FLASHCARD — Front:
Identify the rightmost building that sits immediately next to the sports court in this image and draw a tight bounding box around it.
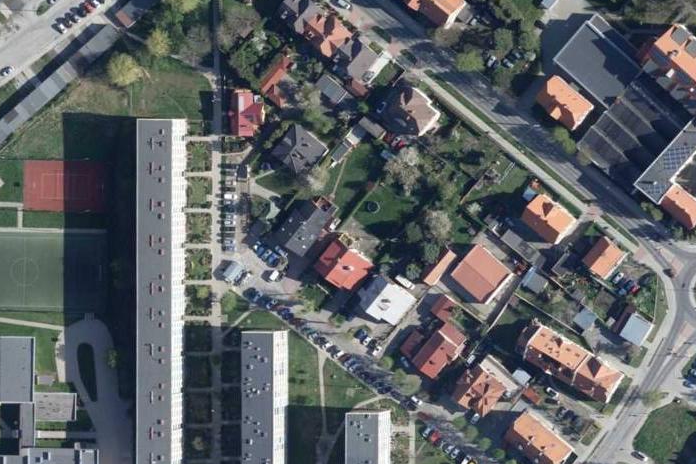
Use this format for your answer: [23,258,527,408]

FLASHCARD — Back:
[131,117,192,464]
